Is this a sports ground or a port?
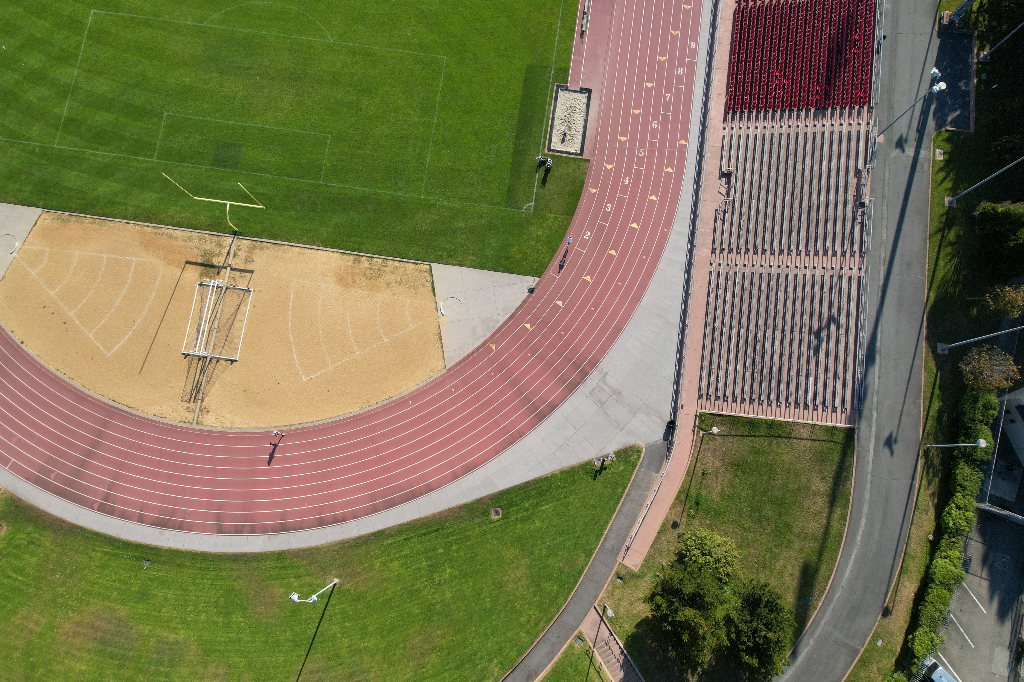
sports ground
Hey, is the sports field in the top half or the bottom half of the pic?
top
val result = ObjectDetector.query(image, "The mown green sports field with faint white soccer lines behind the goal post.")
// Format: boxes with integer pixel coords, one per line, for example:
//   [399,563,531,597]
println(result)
[0,0,590,278]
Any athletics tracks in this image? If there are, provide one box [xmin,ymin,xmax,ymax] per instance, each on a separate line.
[0,0,704,536]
